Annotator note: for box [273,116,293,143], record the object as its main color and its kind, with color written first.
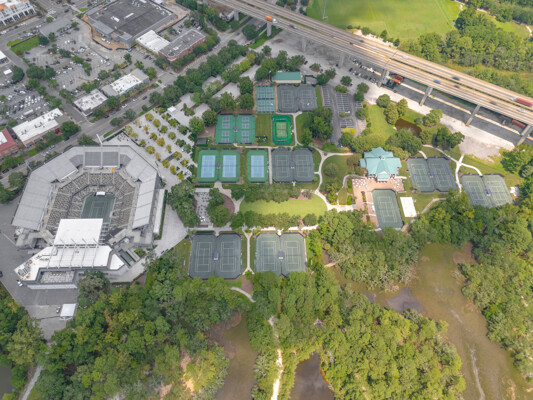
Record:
green sports court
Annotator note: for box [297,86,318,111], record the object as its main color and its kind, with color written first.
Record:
gray tennis court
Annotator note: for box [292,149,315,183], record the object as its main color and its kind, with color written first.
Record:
gray tennis court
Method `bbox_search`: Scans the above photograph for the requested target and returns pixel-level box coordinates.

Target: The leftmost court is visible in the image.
[80,193,115,235]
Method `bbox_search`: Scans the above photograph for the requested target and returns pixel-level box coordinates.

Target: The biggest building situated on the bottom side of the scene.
[13,218,130,289]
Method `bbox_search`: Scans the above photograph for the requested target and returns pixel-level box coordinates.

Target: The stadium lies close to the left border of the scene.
[12,146,161,258]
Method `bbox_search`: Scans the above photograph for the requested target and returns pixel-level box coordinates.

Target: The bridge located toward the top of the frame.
[198,0,533,142]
